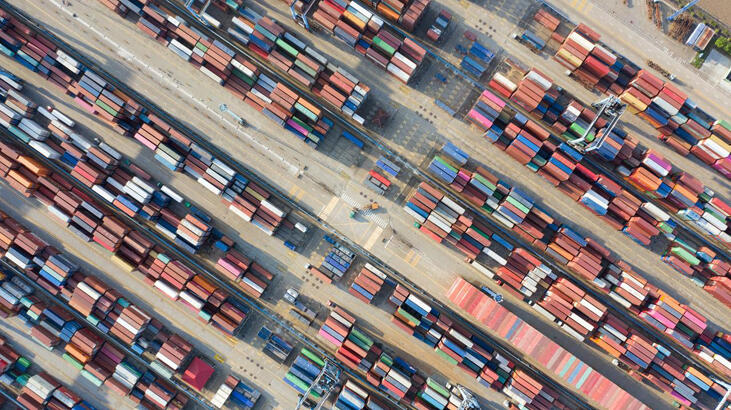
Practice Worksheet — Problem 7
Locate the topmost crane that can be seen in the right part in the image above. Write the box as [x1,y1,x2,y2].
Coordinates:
[561,94,629,156]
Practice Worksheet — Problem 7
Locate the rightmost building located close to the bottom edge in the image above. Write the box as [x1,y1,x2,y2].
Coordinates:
[181,354,218,391]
